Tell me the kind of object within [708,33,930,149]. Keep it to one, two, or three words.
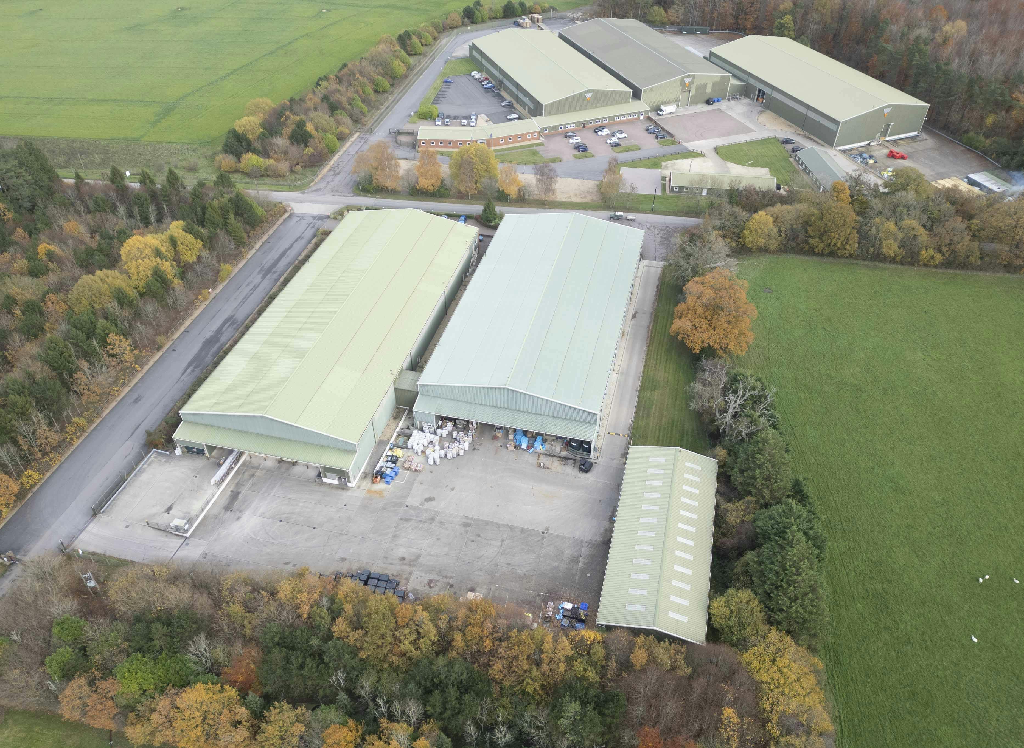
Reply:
warehouse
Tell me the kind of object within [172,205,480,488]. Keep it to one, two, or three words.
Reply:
warehouse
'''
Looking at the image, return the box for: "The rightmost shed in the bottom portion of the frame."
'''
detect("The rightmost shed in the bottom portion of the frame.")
[595,445,719,658]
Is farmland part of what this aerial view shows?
Yes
